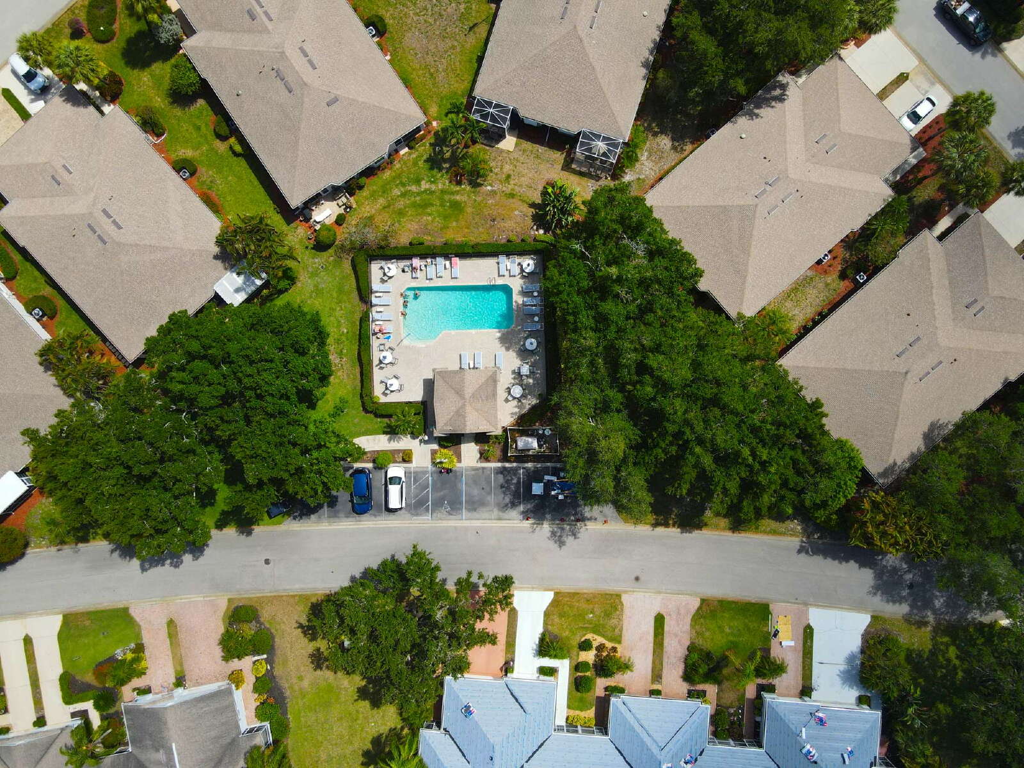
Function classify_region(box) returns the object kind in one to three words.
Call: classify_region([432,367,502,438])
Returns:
building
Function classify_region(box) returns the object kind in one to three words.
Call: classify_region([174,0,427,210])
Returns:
house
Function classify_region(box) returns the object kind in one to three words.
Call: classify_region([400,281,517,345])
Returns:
swimming pool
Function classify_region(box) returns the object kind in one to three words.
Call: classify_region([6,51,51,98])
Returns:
car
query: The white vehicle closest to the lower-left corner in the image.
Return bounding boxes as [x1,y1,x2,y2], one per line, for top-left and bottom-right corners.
[383,464,406,512]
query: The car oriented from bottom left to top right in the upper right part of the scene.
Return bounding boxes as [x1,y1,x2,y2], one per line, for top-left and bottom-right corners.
[898,91,943,134]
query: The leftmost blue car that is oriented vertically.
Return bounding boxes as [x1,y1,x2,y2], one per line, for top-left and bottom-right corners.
[349,467,372,514]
